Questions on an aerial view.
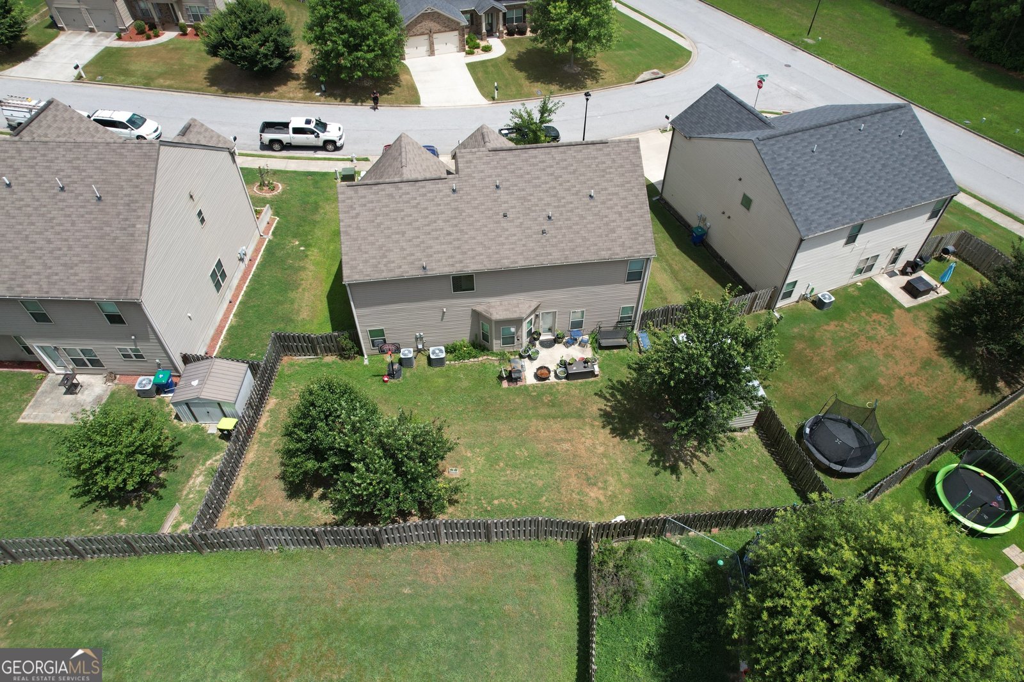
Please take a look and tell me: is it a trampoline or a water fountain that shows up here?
trampoline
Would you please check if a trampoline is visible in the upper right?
No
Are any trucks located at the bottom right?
No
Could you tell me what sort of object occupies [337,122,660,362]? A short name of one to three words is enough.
house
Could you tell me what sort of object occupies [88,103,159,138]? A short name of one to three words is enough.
car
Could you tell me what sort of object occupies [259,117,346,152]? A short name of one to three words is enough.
truck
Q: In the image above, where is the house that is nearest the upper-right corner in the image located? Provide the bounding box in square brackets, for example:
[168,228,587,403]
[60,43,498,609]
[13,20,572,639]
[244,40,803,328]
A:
[652,85,961,316]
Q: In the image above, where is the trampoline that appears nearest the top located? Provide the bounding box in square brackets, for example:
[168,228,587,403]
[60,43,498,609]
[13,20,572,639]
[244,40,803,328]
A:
[797,393,901,489]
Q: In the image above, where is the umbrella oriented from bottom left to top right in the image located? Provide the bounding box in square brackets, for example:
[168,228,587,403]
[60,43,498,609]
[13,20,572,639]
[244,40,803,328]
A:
[940,258,963,291]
